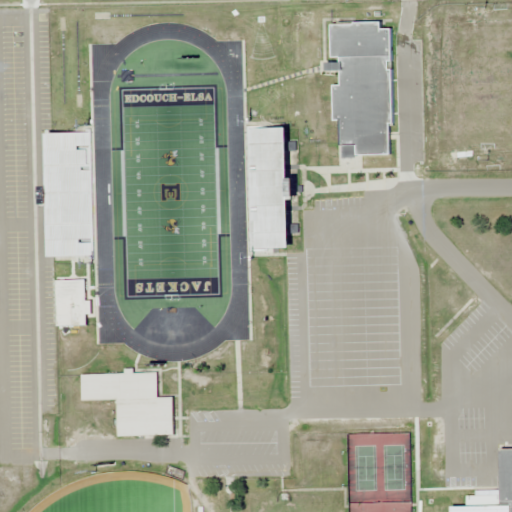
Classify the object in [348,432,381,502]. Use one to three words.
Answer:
tennis court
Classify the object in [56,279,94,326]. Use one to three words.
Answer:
building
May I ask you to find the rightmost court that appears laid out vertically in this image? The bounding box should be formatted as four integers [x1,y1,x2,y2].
[380,432,412,502]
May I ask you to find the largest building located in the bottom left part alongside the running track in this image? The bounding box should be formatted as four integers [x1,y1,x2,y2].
[81,368,177,436]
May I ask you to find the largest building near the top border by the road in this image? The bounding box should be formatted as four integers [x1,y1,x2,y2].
[324,21,395,158]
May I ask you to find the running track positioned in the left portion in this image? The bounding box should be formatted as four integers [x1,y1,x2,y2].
[92,24,250,362]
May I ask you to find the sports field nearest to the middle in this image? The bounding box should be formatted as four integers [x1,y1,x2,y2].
[110,40,232,345]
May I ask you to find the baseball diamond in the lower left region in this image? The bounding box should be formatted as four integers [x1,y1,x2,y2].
[32,471,192,512]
